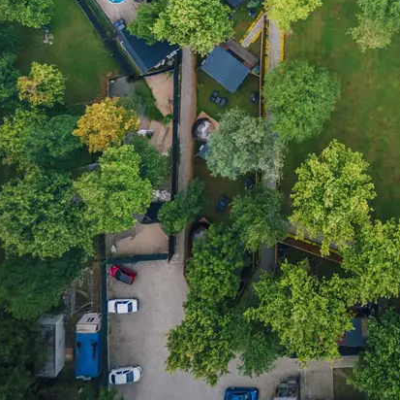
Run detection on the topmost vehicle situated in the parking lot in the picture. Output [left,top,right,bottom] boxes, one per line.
[109,266,137,285]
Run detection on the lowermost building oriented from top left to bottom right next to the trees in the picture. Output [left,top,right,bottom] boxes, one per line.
[194,142,231,185]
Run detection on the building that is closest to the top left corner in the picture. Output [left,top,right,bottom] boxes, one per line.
[119,27,178,74]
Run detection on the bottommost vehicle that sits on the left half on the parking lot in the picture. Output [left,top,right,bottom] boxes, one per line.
[110,365,141,384]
